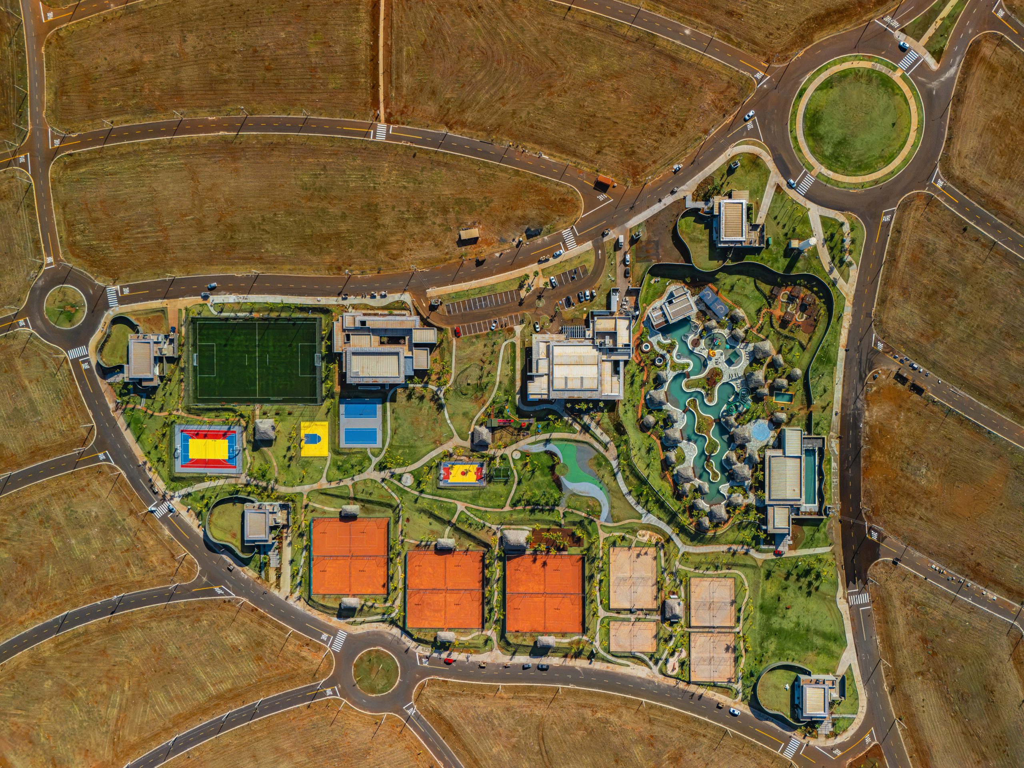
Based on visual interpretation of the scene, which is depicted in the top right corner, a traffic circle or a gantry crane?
traffic circle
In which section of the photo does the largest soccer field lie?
left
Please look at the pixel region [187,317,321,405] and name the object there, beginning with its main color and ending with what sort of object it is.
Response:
green soccer field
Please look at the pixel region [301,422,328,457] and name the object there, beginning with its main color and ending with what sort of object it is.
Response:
yellow basketball court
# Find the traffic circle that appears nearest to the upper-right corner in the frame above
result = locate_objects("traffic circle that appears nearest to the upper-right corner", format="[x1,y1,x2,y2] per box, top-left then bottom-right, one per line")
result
[789,53,925,190]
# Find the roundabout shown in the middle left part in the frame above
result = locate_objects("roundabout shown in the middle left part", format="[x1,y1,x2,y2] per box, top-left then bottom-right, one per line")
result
[44,285,87,329]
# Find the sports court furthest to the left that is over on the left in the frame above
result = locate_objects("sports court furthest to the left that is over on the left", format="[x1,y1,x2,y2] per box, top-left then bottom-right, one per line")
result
[172,424,243,474]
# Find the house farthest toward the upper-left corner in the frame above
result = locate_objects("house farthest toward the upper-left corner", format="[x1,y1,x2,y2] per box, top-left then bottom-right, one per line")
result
[125,333,182,385]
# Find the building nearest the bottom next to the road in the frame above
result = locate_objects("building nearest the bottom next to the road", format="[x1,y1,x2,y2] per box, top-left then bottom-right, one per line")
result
[794,671,846,734]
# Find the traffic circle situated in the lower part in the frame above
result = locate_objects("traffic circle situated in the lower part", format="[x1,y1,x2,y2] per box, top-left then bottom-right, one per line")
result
[352,647,400,695]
